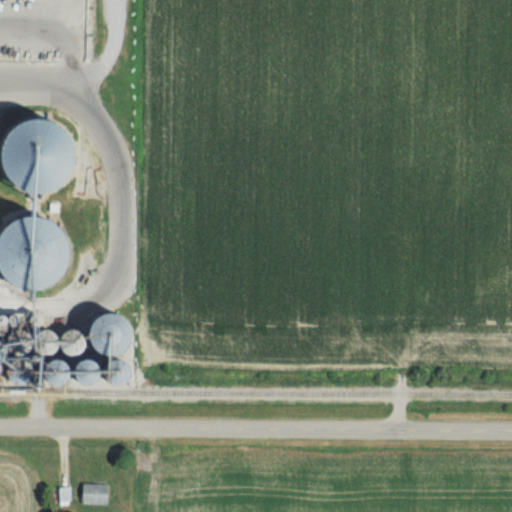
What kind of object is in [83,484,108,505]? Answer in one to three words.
barn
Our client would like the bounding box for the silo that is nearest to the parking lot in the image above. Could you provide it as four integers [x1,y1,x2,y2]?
[1,115,78,201]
